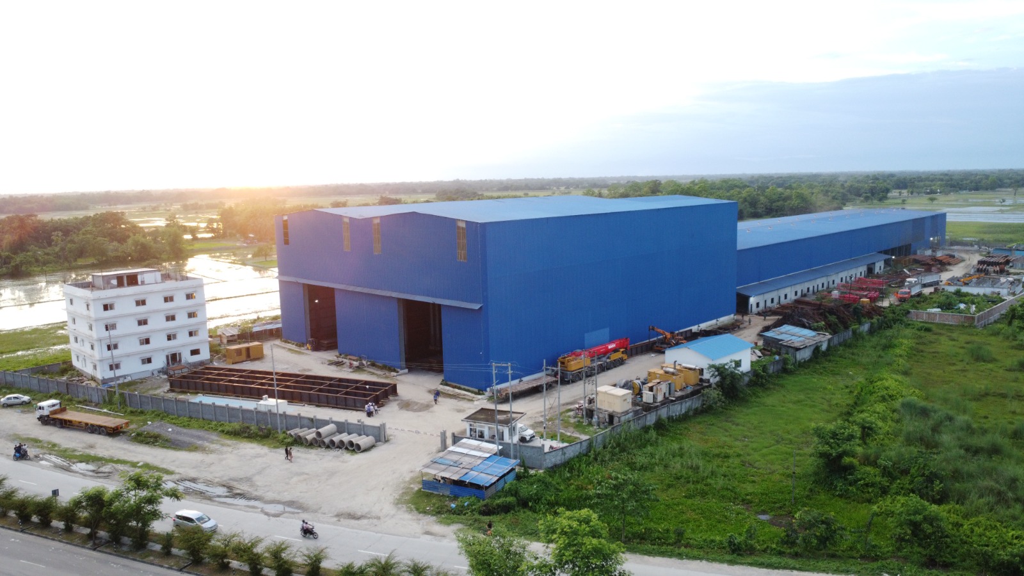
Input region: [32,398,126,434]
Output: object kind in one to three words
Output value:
truck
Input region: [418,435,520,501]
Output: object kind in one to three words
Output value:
shed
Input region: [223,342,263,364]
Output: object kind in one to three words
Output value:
building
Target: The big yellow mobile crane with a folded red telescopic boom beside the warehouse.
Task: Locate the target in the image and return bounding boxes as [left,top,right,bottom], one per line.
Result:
[549,334,633,384]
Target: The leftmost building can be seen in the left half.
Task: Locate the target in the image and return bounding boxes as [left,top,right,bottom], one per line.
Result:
[63,263,210,379]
